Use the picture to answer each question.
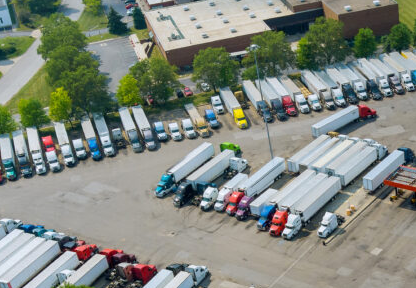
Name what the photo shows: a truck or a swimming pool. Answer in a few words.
truck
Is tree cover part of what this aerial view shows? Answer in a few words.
Yes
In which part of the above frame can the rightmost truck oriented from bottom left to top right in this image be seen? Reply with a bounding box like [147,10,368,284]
[365,148,411,194]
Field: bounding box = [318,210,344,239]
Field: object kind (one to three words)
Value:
truck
